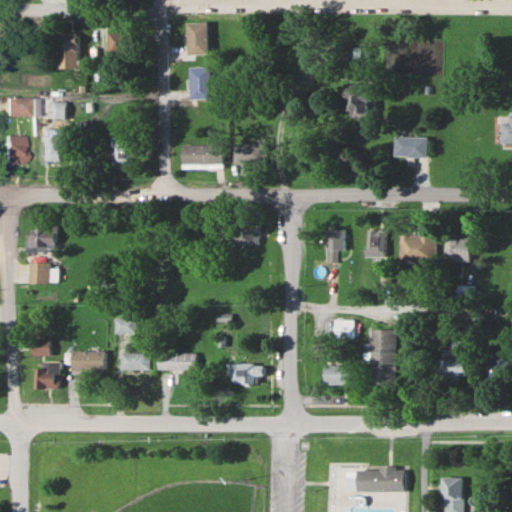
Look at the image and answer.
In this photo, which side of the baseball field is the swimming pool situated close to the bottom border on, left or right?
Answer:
right of it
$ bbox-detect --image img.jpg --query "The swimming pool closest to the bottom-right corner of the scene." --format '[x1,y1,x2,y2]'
[328,464,409,512]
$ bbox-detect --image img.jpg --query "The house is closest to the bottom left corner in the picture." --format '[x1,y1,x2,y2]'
[34,364,60,390]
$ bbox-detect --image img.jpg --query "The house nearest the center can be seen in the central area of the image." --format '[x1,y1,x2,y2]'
[232,230,262,246]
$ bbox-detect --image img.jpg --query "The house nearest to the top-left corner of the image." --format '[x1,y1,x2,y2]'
[58,37,78,70]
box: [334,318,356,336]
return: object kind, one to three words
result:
building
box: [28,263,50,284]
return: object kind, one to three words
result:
building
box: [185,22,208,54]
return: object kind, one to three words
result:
house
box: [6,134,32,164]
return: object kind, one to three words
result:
house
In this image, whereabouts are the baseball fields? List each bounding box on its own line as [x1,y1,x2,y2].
[108,480,256,512]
